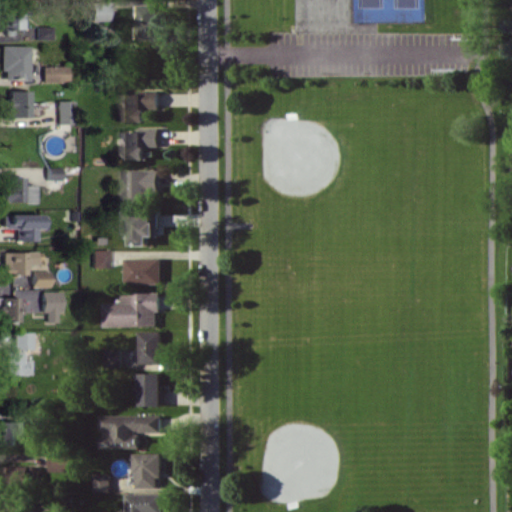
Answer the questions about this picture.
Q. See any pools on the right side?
No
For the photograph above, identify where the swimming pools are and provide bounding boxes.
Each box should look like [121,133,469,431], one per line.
[110,460,130,478]
[42,132,70,160]
[56,268,74,284]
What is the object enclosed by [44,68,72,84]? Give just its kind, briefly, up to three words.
building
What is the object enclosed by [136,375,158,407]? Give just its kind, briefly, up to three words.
house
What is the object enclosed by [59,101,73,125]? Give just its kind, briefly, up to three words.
building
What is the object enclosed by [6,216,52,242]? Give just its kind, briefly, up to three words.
house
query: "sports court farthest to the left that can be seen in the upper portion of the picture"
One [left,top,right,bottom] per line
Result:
[353,0,388,24]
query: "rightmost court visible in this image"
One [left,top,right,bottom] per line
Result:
[388,0,424,24]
